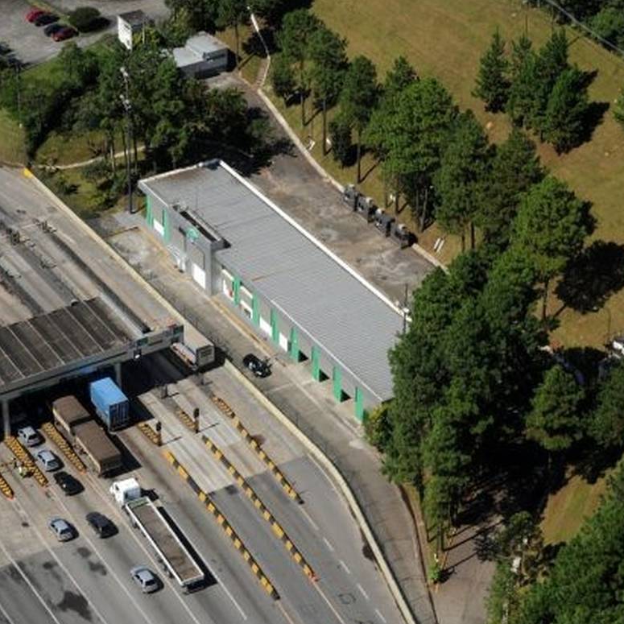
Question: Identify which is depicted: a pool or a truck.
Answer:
truck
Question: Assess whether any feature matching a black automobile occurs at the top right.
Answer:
No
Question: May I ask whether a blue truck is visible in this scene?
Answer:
Yes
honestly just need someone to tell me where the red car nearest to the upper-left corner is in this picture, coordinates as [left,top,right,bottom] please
[22,9,49,24]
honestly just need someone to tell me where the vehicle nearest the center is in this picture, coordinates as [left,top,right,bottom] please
[242,355,270,376]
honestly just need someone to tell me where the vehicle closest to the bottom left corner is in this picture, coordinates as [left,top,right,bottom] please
[48,518,74,544]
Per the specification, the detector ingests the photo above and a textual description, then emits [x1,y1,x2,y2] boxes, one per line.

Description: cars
[48,518,74,544]
[52,472,81,499]
[40,22,67,37]
[48,27,76,42]
[34,452,60,476]
[15,428,41,451]
[242,355,270,376]
[128,567,160,597]
[31,14,58,29]
[22,9,49,24]
[84,512,116,540]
